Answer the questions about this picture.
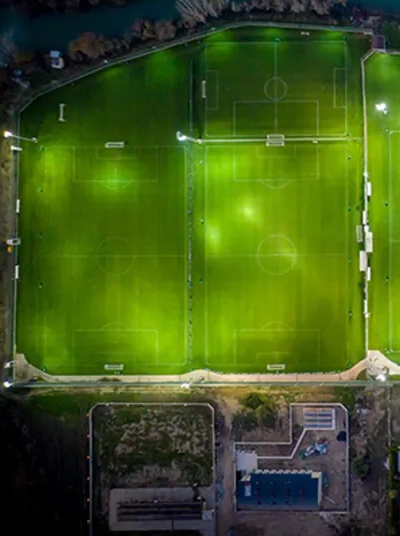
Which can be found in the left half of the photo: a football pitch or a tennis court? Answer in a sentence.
It is a football pitch that can be seen in the left half of the photo.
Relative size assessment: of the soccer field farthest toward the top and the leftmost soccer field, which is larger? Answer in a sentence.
The larger object is the leftmost soccer field, with the soccer field farthest toward the top being the smaller of the pair.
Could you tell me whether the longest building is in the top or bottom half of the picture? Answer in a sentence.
The longest building sits in the bottom half of the picture.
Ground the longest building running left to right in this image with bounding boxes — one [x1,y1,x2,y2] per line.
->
[238,469,322,509]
